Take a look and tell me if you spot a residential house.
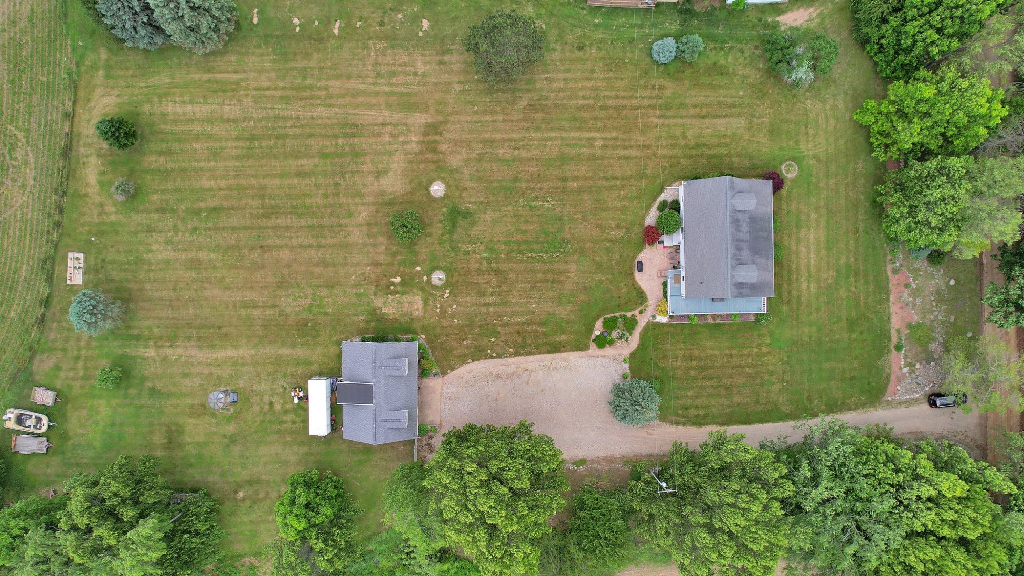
Yes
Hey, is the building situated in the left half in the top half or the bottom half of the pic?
bottom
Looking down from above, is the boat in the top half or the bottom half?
bottom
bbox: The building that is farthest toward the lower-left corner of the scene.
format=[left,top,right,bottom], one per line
[336,341,423,445]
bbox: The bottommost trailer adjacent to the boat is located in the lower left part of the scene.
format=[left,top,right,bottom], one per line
[9,432,56,455]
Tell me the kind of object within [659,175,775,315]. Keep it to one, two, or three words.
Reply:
house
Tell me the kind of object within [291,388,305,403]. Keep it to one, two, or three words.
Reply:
work vehicle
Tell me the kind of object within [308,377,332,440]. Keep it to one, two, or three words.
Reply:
trailer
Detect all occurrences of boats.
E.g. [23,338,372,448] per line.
[0,409,57,431]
